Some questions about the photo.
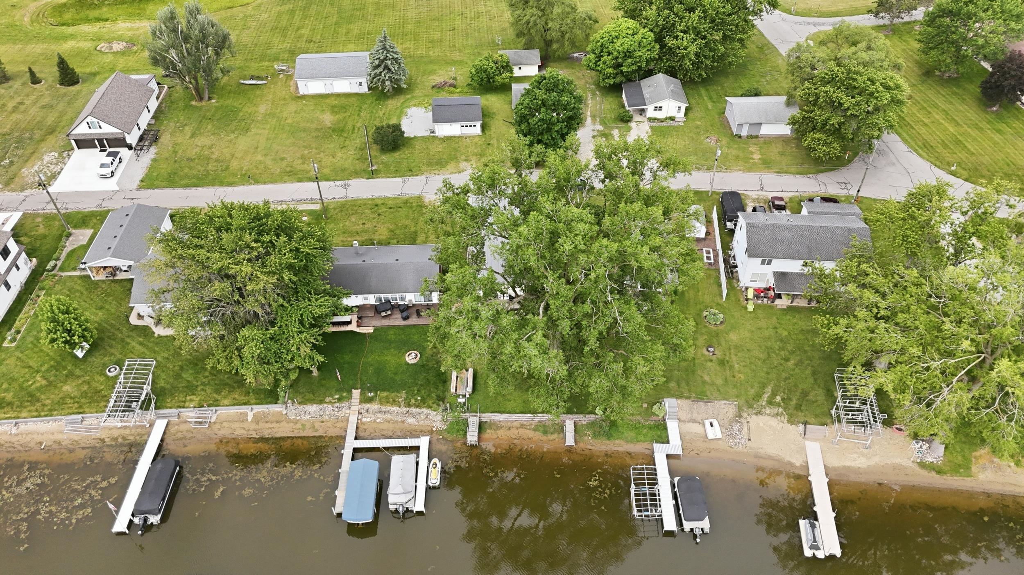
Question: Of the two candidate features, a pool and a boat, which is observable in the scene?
boat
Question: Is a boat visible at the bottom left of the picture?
Yes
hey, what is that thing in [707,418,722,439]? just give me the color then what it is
white boat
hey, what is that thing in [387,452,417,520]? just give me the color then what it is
white boat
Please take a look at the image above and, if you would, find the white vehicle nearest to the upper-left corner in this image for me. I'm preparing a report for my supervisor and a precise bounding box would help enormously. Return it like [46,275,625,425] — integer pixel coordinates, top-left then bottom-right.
[96,150,121,176]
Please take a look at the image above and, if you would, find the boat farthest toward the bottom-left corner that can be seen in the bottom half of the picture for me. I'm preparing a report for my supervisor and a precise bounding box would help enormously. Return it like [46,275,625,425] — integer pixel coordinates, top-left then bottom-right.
[135,462,185,530]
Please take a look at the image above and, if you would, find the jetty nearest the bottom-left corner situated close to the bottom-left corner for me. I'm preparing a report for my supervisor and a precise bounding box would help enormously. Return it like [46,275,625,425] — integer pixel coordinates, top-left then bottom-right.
[112,425,167,534]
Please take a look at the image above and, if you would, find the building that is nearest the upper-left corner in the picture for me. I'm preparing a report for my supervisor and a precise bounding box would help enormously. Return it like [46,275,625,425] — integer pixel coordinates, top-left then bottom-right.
[67,69,167,153]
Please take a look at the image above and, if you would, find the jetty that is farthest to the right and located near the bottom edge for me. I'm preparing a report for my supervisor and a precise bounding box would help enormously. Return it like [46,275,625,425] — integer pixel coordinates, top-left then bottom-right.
[808,450,848,559]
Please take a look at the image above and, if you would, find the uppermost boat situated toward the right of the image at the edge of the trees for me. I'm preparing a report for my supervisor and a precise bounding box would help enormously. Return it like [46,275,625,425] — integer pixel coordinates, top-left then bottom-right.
[719,189,744,230]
